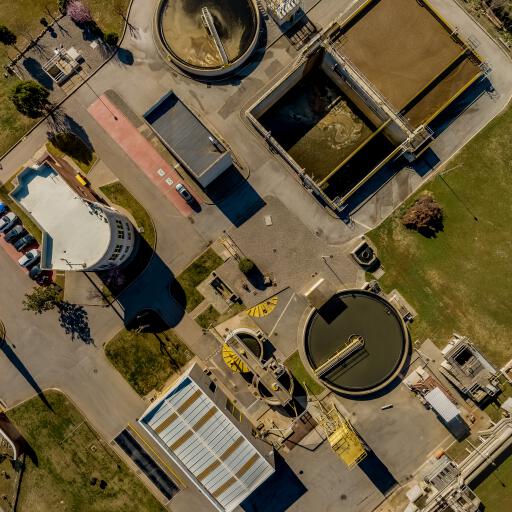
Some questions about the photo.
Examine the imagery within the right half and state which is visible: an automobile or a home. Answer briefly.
home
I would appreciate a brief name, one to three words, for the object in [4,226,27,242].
car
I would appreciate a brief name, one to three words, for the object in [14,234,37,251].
car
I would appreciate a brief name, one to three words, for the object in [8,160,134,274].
building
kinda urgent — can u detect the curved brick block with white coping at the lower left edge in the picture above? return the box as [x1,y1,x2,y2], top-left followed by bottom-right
[0,416,30,462]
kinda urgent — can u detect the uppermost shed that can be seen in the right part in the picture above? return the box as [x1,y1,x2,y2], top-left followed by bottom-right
[304,278,337,311]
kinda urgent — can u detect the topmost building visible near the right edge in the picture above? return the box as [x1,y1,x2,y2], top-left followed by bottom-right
[438,336,500,392]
